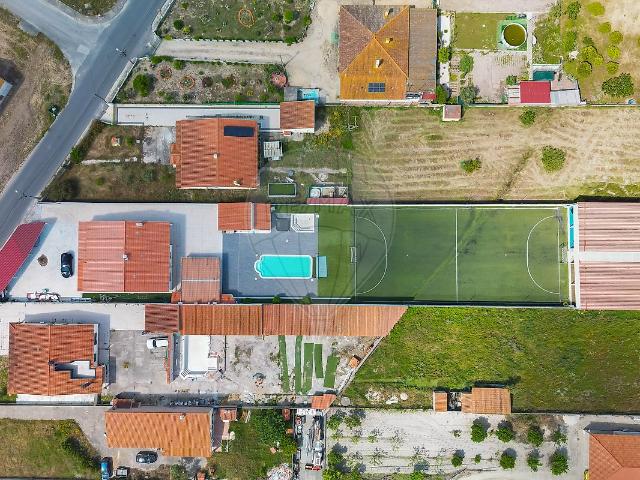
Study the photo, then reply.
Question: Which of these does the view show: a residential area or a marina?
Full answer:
This image shows a residential area.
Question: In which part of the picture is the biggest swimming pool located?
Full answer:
The biggest swimming pool is located in the center region of the scene.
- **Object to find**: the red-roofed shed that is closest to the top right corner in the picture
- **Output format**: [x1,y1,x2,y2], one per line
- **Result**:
[518,81,550,104]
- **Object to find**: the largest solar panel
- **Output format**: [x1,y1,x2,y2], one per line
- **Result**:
[223,125,255,138]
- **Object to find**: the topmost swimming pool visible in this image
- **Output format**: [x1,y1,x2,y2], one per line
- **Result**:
[532,65,562,81]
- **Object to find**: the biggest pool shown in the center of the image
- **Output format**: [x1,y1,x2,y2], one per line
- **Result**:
[255,255,312,278]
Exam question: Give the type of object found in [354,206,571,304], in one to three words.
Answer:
soccer field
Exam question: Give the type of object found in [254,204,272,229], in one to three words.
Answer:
building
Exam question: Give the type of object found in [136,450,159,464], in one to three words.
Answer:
car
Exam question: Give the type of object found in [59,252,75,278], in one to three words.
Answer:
car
